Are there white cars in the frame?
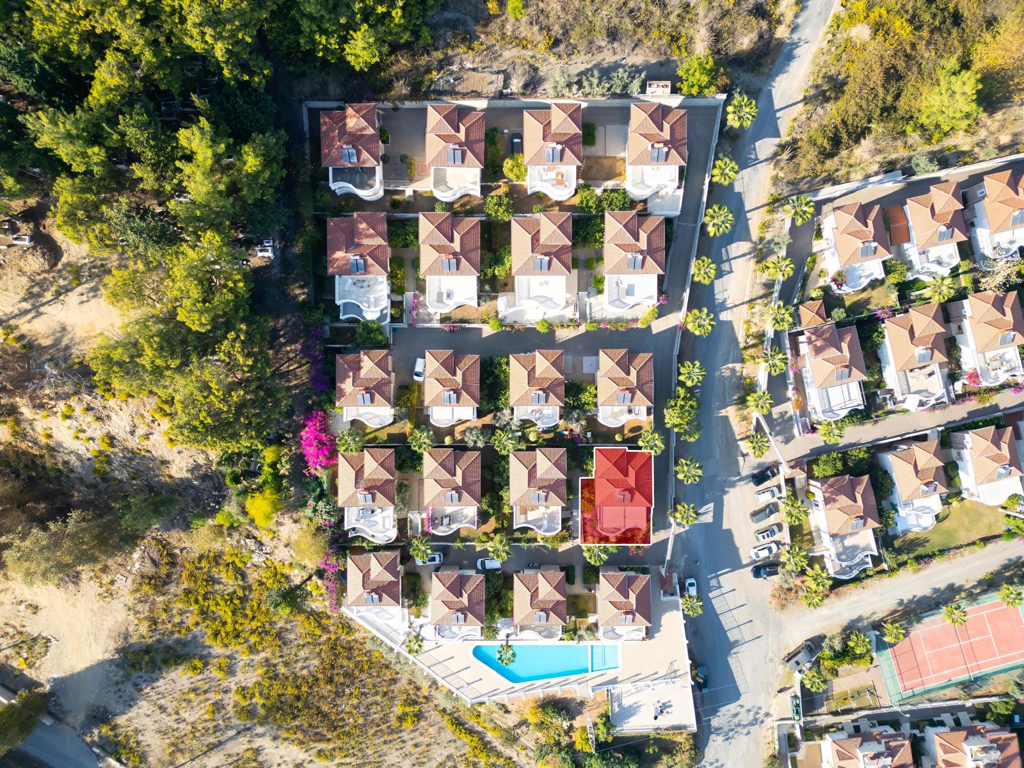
Yes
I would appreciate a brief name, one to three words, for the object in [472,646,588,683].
swimming pool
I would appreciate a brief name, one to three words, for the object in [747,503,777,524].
car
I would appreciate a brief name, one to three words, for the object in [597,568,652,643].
house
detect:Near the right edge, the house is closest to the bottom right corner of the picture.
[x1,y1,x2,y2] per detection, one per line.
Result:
[919,707,1019,768]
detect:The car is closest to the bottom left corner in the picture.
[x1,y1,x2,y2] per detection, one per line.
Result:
[416,550,445,567]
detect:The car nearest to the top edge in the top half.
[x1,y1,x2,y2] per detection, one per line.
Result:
[509,129,523,157]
